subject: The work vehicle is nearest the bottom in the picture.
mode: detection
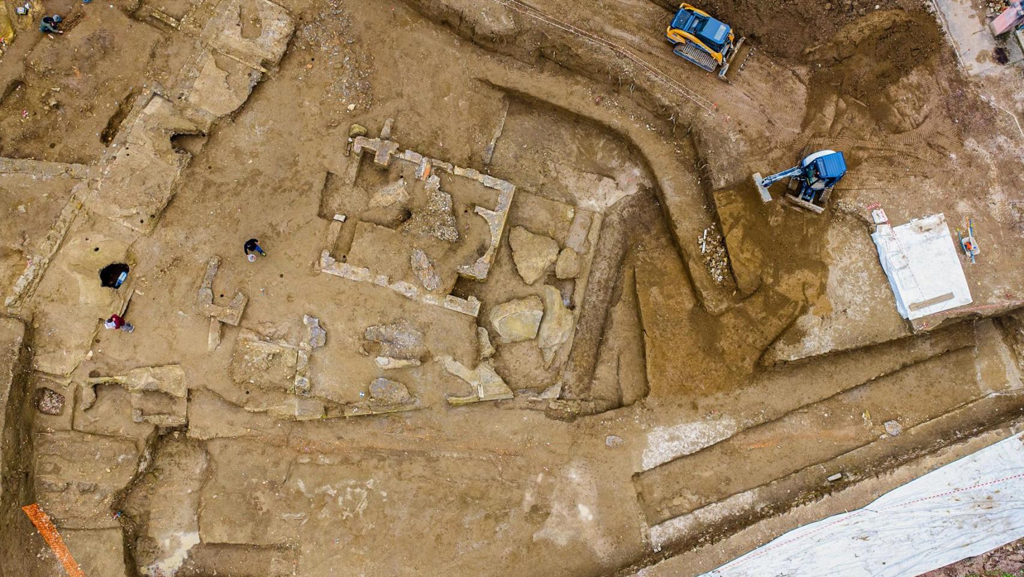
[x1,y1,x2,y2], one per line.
[751,143,855,214]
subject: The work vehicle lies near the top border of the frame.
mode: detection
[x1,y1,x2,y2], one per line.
[658,0,755,89]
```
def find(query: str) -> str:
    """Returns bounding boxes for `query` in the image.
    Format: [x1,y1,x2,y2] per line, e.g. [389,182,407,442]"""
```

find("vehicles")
[658,0,755,89]
[751,143,855,214]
